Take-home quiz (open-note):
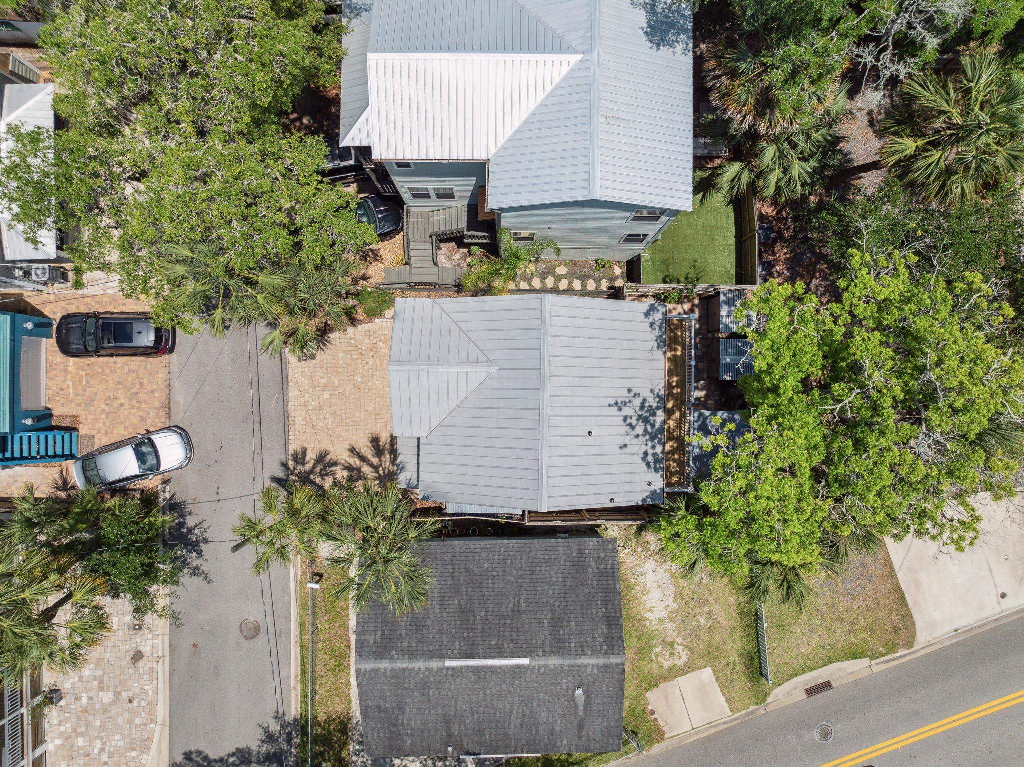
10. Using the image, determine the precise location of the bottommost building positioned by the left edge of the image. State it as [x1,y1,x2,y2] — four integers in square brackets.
[0,314,53,434]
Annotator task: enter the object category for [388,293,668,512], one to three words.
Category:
house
